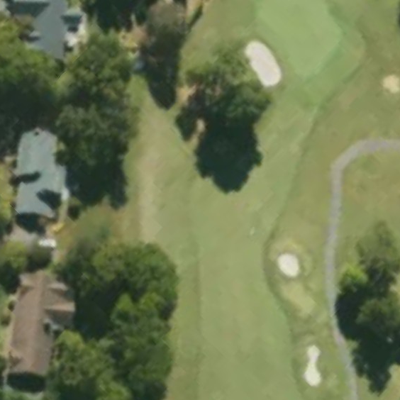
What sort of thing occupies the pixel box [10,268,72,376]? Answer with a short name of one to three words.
house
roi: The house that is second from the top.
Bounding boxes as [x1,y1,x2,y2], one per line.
[14,129,65,217]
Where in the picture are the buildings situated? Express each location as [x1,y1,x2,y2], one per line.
[6,0,81,55]
[10,268,72,376]
[14,129,65,217]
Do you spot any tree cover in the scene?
Yes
